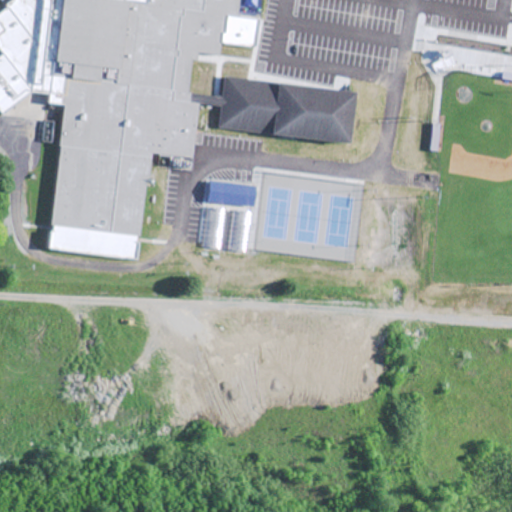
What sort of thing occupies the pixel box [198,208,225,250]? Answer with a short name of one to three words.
greenhouse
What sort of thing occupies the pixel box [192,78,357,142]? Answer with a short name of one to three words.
building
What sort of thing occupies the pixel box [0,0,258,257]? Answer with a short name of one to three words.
building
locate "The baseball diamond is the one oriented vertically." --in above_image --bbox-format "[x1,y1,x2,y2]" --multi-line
[431,71,512,286]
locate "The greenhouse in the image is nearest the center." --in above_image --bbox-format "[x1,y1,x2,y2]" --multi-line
[228,210,252,252]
